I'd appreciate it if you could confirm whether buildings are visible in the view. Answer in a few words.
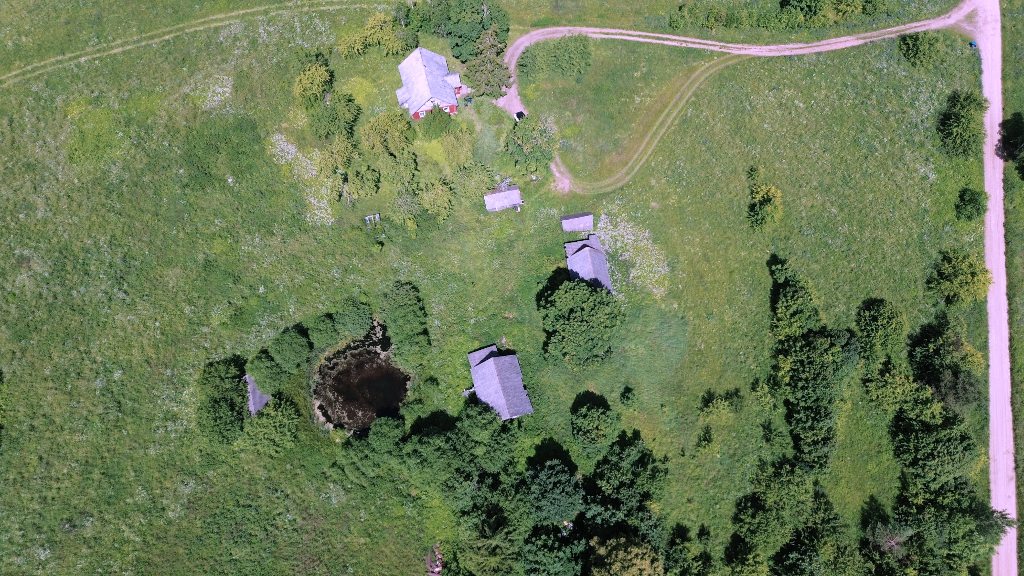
Yes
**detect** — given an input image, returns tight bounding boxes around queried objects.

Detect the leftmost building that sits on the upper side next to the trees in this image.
[396,47,462,121]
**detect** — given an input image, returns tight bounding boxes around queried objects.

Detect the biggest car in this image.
[515,107,529,122]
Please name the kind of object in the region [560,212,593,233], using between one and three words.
shed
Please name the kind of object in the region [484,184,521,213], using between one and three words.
shed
